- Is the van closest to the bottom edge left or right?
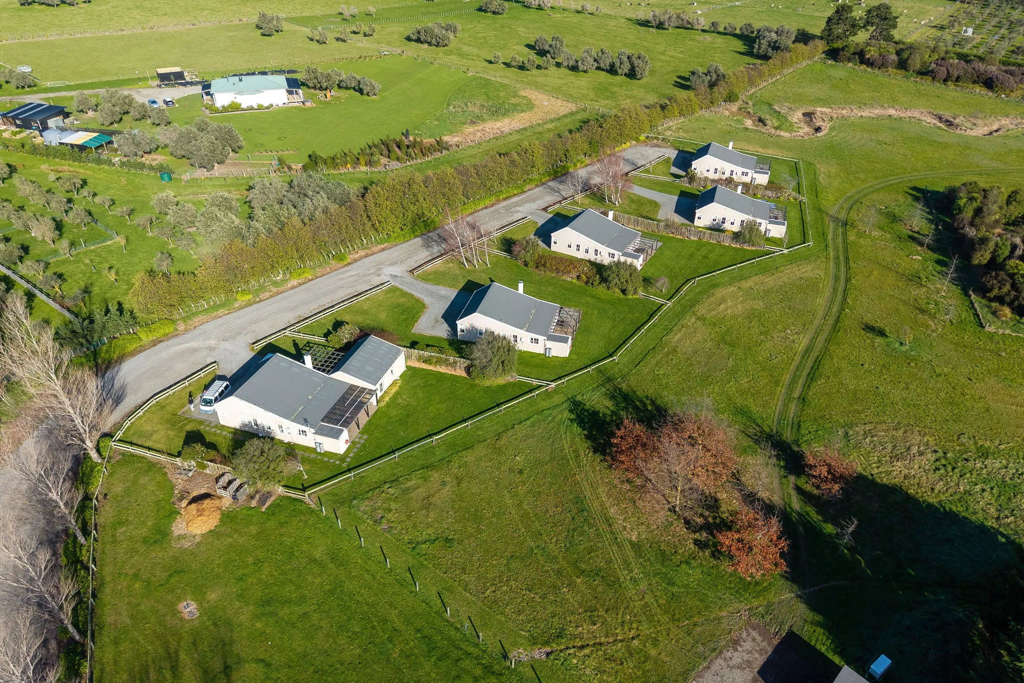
left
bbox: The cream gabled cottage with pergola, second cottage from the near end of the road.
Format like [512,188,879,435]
[456,277,584,357]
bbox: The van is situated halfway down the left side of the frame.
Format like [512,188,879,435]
[198,378,231,414]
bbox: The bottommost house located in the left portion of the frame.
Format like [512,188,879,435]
[213,335,405,453]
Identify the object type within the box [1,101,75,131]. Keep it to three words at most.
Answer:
shed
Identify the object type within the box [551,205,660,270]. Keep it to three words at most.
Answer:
house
